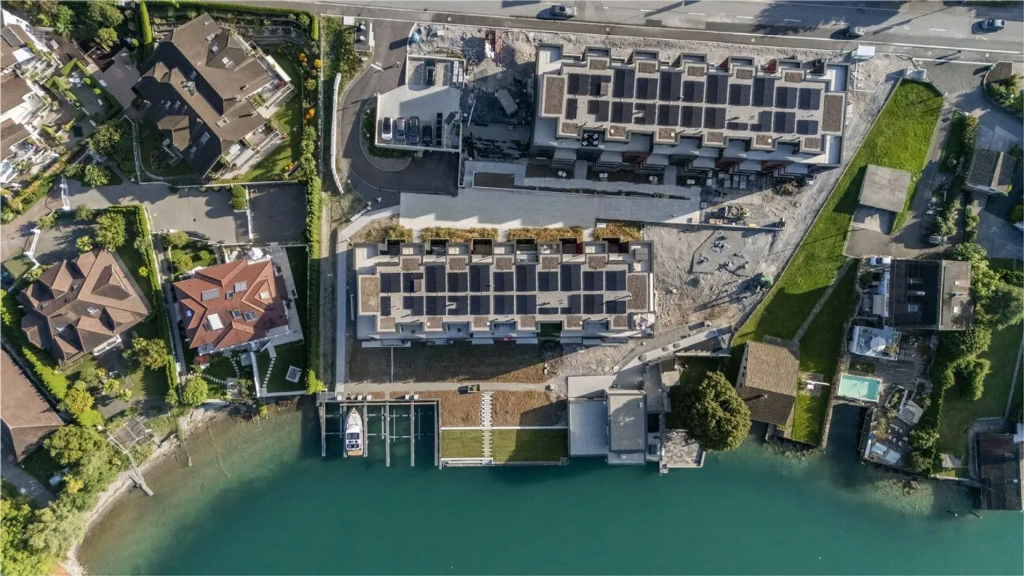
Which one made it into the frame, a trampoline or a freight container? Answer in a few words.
freight container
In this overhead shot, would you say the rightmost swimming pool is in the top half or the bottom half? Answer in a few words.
bottom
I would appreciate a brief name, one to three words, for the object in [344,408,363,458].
boat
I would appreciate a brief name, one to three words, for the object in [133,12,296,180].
house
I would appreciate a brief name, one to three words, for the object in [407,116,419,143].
vehicle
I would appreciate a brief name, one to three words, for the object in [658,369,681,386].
shed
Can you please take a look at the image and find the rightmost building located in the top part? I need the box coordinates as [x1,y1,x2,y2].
[960,149,1015,190]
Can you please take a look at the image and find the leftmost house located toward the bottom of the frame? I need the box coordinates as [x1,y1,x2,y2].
[0,335,71,462]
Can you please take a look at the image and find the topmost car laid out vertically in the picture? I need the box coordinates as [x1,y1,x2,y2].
[424,60,436,85]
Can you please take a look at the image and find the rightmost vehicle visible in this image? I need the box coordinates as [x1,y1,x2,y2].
[981,16,1010,30]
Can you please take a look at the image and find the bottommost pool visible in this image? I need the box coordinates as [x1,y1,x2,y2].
[835,372,883,403]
